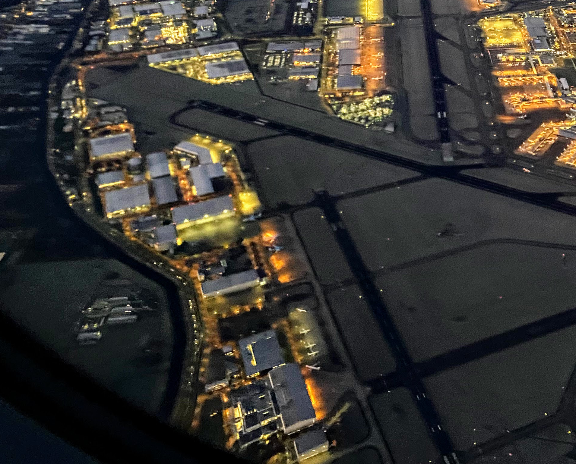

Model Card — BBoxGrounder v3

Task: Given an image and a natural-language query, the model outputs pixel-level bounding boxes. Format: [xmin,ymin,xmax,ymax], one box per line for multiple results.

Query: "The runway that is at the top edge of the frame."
[420,0,454,148]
